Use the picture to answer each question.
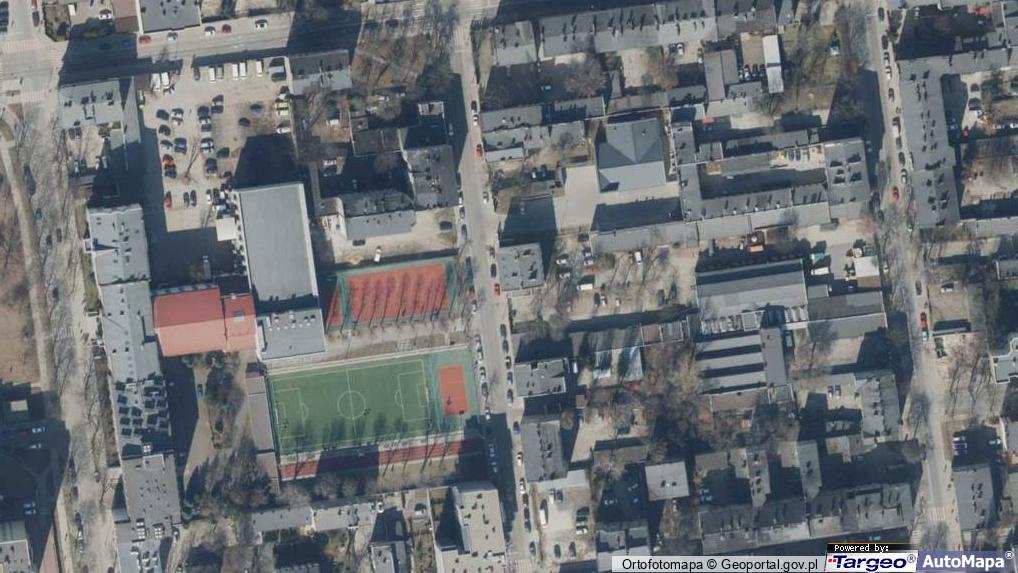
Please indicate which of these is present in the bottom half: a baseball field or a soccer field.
soccer field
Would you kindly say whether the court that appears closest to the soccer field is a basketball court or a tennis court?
basketball court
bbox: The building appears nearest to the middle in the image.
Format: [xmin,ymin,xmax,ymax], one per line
[498,243,545,292]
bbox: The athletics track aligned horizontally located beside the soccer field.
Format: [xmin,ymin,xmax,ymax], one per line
[279,428,486,480]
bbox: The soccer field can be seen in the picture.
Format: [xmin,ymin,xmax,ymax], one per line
[267,355,432,455]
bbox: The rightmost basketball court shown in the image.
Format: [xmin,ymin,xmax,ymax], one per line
[425,348,483,432]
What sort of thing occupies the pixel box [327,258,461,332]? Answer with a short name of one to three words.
sports court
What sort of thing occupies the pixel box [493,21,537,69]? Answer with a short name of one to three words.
building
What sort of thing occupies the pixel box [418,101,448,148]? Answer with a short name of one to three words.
building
